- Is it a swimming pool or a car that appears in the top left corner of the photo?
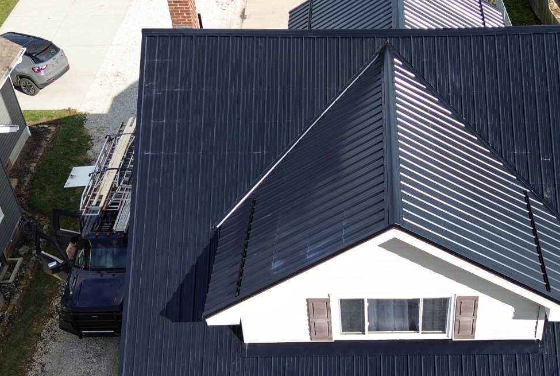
car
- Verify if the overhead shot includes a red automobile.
No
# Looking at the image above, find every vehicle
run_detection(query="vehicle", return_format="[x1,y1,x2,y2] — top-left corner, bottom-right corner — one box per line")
[2,33,74,94]
[43,119,134,328]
